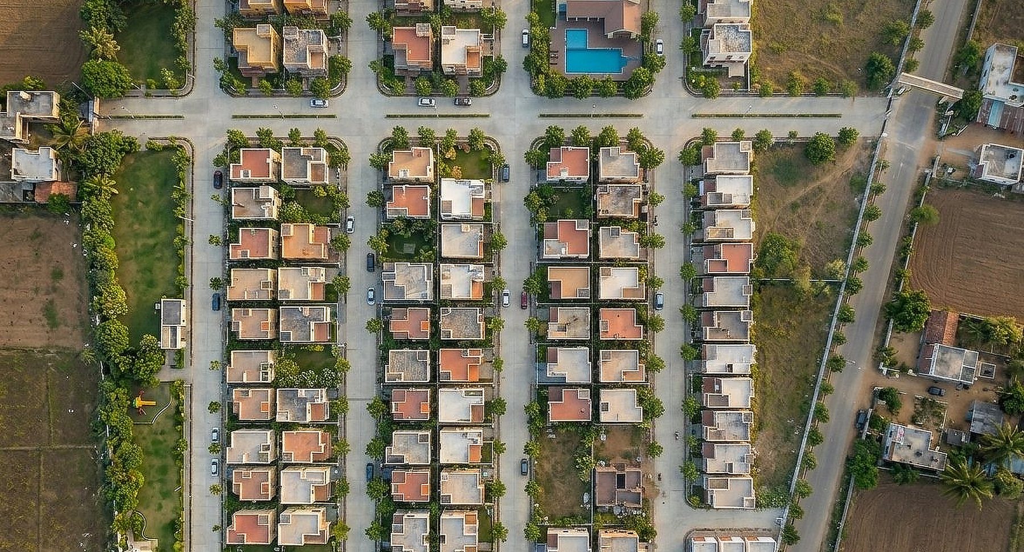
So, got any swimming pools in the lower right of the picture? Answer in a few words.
No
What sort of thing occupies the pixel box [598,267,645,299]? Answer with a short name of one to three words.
house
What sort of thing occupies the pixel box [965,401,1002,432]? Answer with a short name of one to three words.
shed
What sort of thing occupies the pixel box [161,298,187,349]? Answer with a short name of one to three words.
building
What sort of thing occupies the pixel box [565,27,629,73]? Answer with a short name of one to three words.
swimming pool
